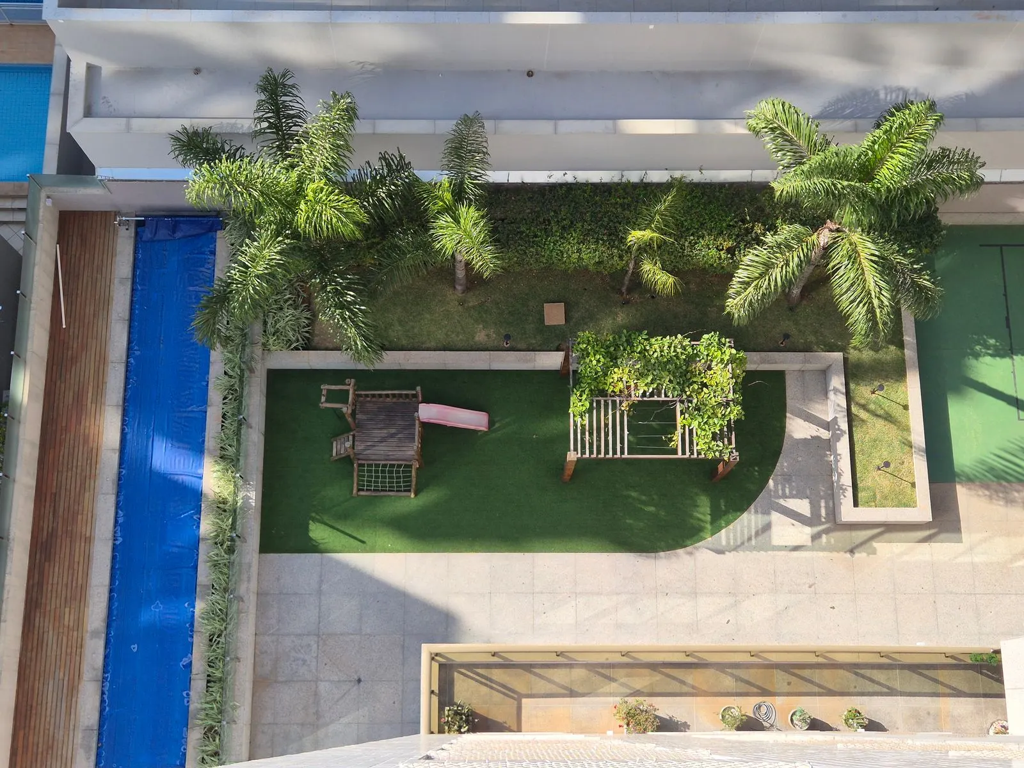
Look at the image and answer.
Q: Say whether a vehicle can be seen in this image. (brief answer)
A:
No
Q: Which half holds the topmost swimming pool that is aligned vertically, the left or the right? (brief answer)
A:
left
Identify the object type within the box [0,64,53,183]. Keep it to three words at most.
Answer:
swimming pool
